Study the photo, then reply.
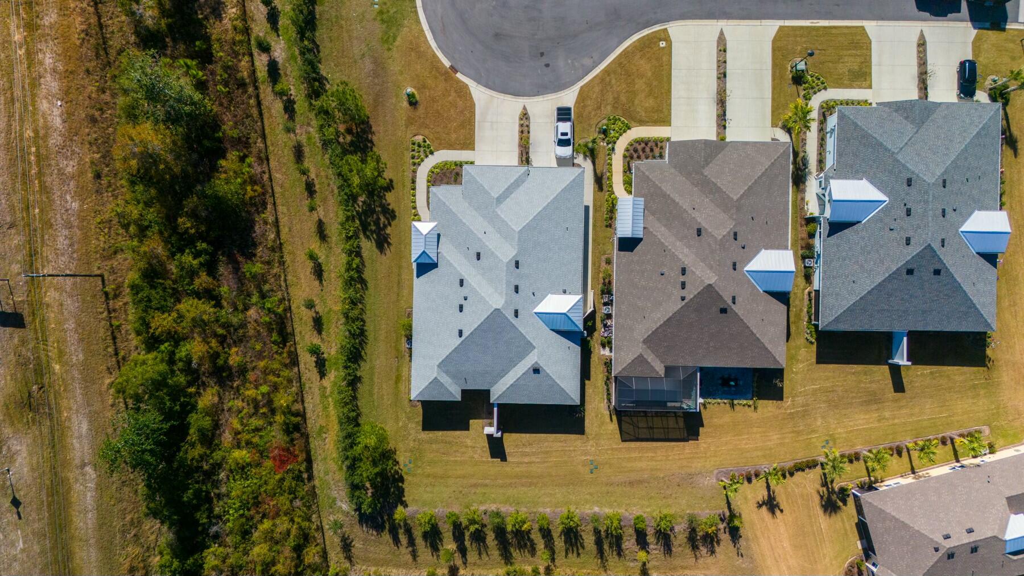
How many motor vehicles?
2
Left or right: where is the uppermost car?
right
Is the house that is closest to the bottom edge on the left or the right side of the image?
right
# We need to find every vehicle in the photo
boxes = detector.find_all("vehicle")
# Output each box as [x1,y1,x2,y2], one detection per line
[553,106,575,160]
[954,59,978,101]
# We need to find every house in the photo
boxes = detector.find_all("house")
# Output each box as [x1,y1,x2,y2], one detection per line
[612,138,796,378]
[410,163,585,407]
[811,99,1013,333]
[851,439,1024,576]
